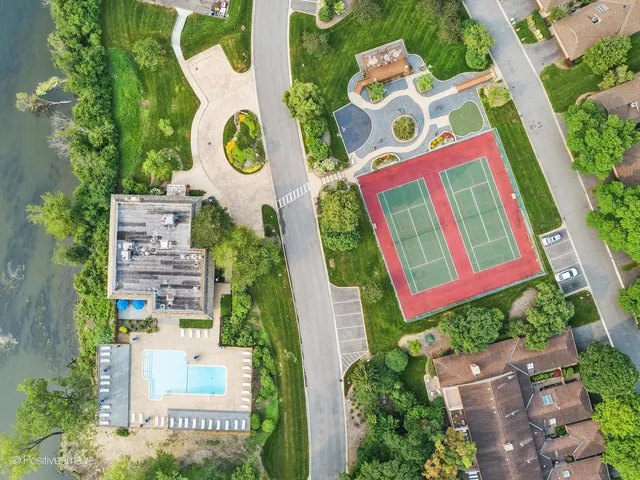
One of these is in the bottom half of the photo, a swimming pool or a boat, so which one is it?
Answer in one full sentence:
There is a swimming pool in the bottom half of the photo.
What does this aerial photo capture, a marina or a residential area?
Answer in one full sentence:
The picture captures a residential area.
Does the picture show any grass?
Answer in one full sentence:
Yes, grass shows up in the scene.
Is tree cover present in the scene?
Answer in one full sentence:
Yes, the picture does contain tree cover.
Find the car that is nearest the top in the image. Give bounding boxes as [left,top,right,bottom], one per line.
[539,234,562,246]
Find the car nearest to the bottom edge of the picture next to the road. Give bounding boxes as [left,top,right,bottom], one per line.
[554,268,578,281]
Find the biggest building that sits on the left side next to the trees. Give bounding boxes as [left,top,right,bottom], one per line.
[109,184,214,320]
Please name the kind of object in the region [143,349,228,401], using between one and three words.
swimming pool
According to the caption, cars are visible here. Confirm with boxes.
[539,234,562,246]
[554,268,578,281]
